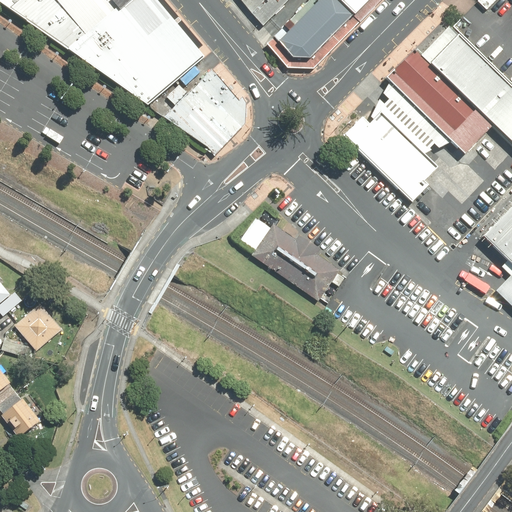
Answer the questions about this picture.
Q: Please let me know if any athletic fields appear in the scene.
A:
No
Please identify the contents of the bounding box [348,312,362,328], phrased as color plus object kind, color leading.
white car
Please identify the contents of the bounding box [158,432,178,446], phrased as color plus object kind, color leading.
white vehicle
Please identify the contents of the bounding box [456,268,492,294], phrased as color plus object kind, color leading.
pink truck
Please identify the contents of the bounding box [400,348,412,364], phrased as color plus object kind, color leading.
white vehicle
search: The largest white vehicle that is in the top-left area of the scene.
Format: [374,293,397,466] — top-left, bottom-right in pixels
[42,128,64,145]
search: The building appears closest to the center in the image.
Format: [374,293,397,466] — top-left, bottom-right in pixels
[241,218,341,305]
